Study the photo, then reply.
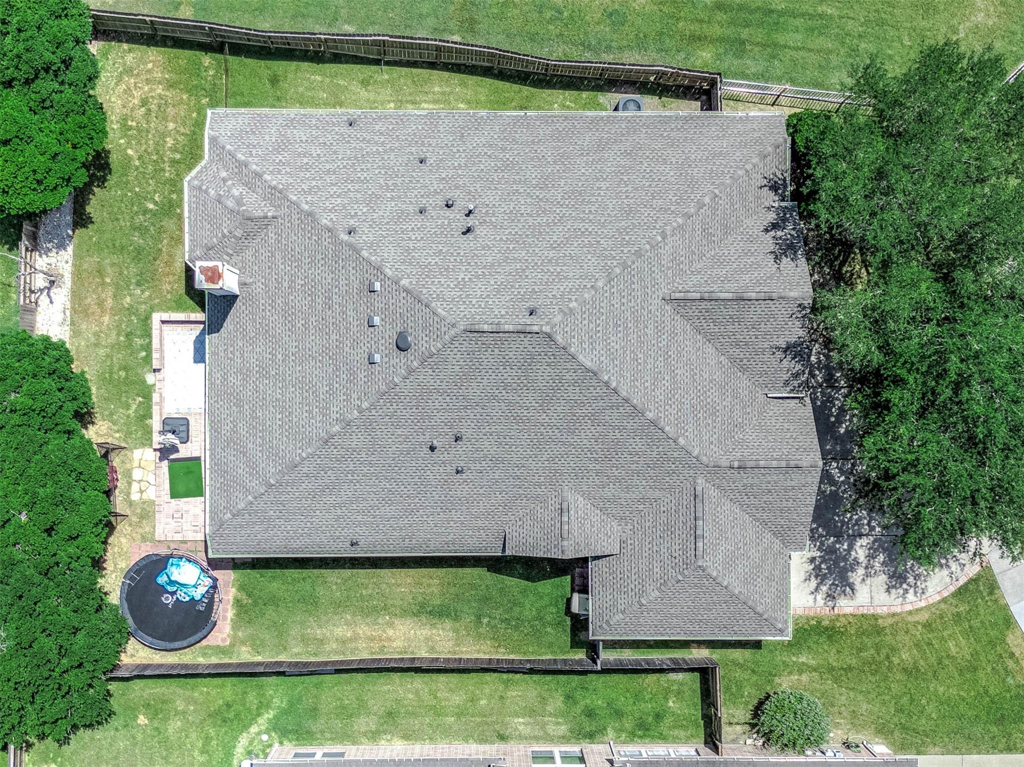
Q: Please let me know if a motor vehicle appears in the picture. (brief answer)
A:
No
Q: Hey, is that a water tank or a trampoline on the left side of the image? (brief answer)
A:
trampoline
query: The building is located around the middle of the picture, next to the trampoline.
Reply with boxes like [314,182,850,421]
[182,109,820,642]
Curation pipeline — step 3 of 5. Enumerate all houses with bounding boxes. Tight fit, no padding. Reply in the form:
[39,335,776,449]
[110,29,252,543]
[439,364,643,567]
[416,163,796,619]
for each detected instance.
[182,109,820,642]
[253,736,918,767]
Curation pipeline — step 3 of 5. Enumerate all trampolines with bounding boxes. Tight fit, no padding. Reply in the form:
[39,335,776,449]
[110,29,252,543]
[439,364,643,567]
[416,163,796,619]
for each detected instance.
[120,549,223,651]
